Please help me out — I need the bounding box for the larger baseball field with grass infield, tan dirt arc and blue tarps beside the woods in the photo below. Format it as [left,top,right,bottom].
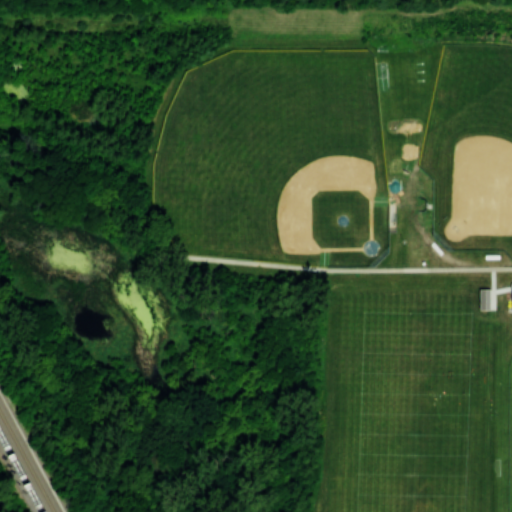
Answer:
[153,51,388,266]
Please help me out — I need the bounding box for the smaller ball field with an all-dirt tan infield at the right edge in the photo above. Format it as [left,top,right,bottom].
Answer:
[421,42,512,250]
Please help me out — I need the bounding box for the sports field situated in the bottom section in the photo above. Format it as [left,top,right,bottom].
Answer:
[340,292,484,512]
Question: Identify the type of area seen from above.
sports ground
